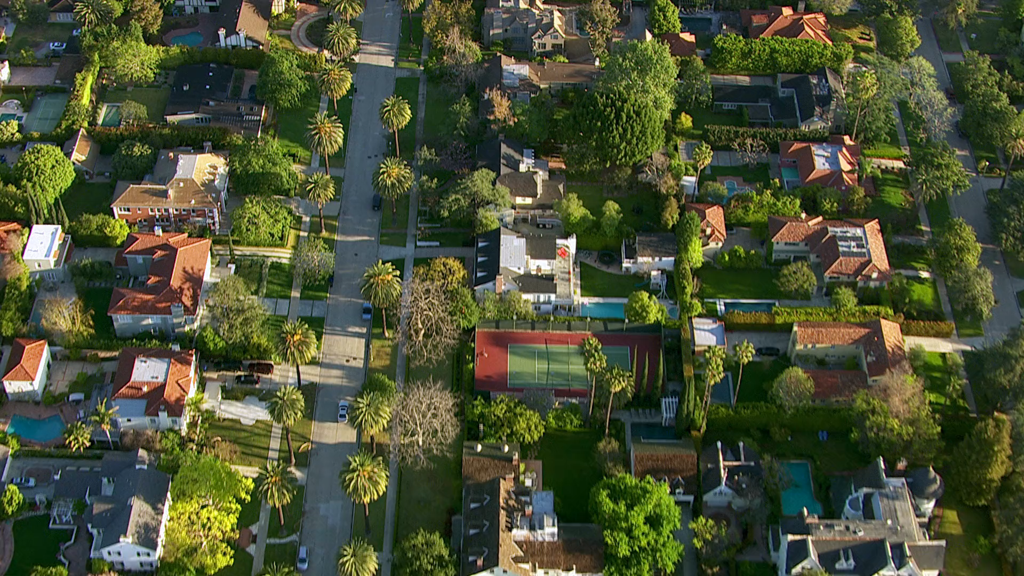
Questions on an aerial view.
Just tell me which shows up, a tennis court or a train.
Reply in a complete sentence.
Looking from above, you can make out a tennis court.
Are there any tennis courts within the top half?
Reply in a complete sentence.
Yes, I can see a tennis court within the top half.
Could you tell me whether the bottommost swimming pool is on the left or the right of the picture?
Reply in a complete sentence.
The bottommost swimming pool sits on the right side.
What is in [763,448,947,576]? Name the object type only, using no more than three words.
house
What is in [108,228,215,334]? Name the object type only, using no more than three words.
house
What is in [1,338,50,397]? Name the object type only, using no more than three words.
building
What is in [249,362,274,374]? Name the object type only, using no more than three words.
vehicle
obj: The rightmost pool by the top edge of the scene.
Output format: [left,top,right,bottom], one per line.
[677,14,715,32]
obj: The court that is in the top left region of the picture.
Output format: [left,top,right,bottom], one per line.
[20,88,79,136]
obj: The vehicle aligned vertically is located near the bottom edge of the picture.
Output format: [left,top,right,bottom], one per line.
[297,547,309,571]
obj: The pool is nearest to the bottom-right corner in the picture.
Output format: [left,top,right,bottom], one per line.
[779,461,824,517]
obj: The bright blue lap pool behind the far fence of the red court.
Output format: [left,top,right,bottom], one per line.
[578,299,629,318]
